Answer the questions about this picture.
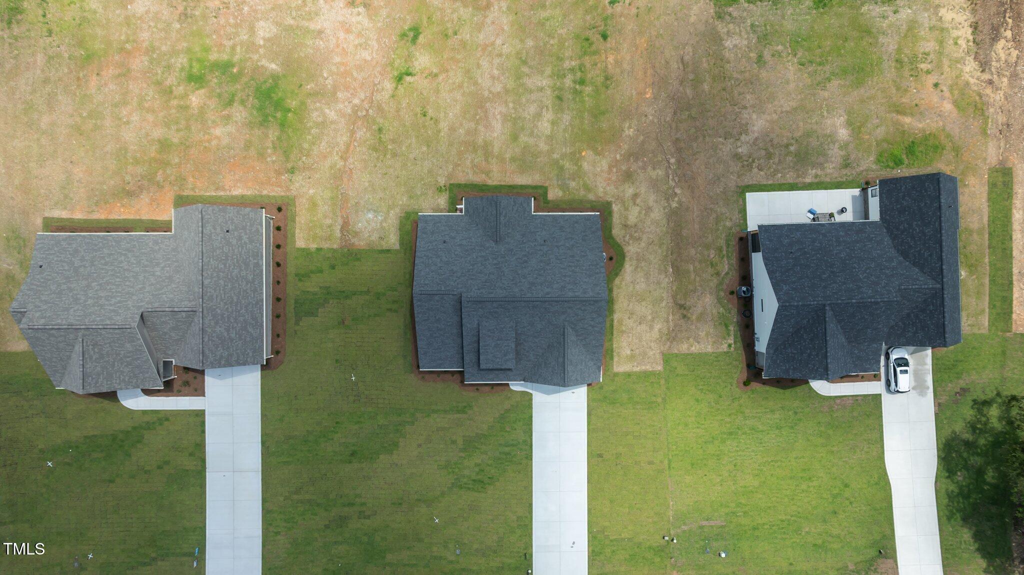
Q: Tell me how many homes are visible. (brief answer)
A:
3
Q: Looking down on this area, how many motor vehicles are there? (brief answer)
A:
1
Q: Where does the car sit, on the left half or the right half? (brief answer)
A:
right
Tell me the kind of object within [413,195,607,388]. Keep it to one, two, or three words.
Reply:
house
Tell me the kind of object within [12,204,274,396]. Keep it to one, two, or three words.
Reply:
house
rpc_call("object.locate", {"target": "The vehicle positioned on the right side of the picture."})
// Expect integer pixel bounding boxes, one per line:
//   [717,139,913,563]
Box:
[886,347,913,394]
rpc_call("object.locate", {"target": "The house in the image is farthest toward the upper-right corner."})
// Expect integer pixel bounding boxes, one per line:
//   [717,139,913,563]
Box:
[742,172,964,382]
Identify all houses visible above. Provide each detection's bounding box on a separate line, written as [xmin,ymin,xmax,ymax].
[413,195,607,388]
[742,172,964,382]
[12,204,274,396]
